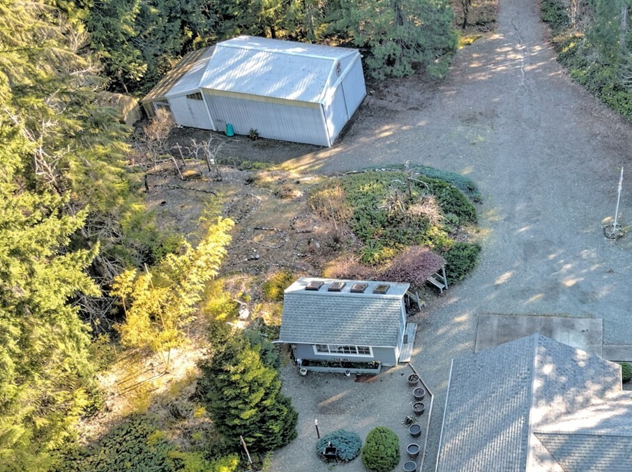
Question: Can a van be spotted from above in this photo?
No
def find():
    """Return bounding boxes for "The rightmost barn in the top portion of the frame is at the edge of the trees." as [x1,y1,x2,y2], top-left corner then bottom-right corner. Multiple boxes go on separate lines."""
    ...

[153,39,370,146]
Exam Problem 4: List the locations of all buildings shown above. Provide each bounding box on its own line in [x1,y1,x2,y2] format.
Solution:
[433,334,632,472]
[92,89,149,136]
[272,277,409,370]
[153,39,370,146]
